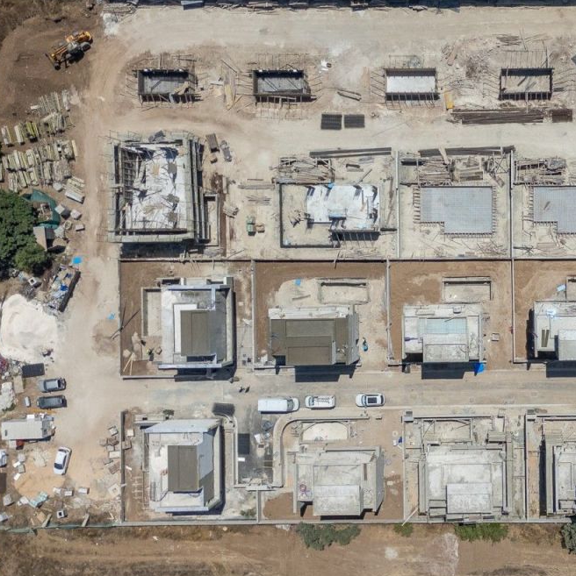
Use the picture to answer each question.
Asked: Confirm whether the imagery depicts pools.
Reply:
Yes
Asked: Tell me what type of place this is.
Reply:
residential area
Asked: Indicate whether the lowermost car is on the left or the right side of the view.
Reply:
left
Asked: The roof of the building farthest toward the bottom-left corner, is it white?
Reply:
Yes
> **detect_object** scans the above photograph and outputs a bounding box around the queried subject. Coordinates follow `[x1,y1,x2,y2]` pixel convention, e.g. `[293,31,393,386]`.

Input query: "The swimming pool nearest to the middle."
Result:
[319,276,370,303]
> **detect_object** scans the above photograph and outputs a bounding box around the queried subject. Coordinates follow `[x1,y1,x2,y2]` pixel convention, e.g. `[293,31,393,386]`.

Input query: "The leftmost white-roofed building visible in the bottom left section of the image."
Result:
[1,414,63,441]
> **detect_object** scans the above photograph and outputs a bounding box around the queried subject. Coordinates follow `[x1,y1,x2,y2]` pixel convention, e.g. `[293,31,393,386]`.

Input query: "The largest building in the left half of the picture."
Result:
[100,134,213,242]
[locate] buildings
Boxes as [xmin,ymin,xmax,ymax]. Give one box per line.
[159,276,246,368]
[268,306,360,364]
[100,134,213,242]
[425,438,506,513]
[552,438,576,511]
[403,303,484,362]
[144,422,222,511]
[293,442,384,516]
[1,414,63,441]
[532,300,576,360]
[35,226,61,250]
